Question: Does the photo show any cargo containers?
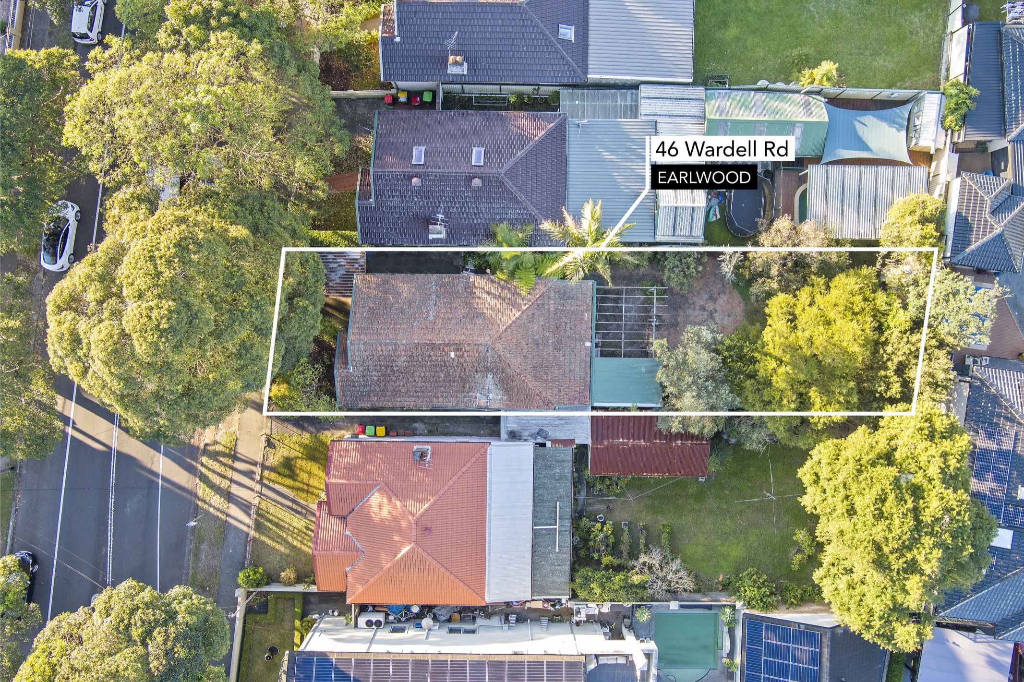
No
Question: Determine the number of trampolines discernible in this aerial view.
1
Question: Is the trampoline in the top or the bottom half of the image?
top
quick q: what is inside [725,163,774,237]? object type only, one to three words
trampoline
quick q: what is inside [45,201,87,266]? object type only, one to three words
car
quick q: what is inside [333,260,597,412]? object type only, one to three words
house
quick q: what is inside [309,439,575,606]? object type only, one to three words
house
